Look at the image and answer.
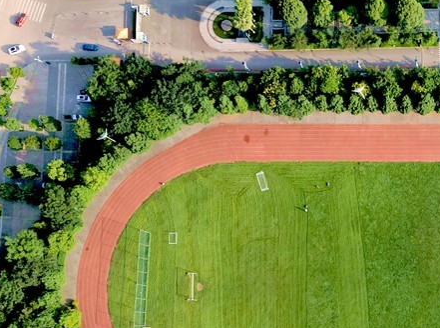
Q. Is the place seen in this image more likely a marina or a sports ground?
sports ground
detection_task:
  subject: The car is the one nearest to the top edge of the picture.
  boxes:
[12,11,25,27]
